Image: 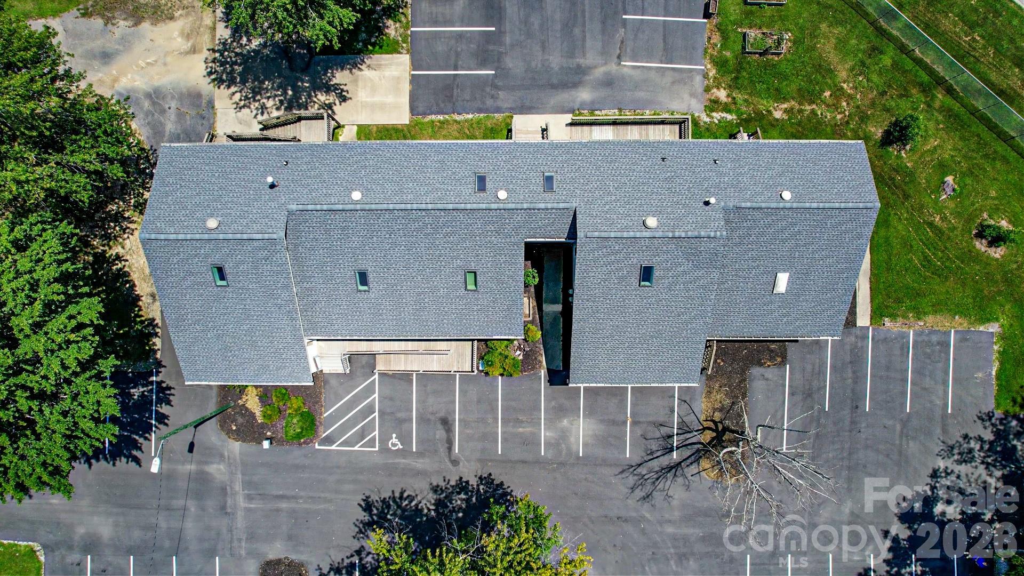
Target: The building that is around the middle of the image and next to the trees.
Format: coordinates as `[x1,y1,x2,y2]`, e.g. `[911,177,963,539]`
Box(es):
[139,139,879,387]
